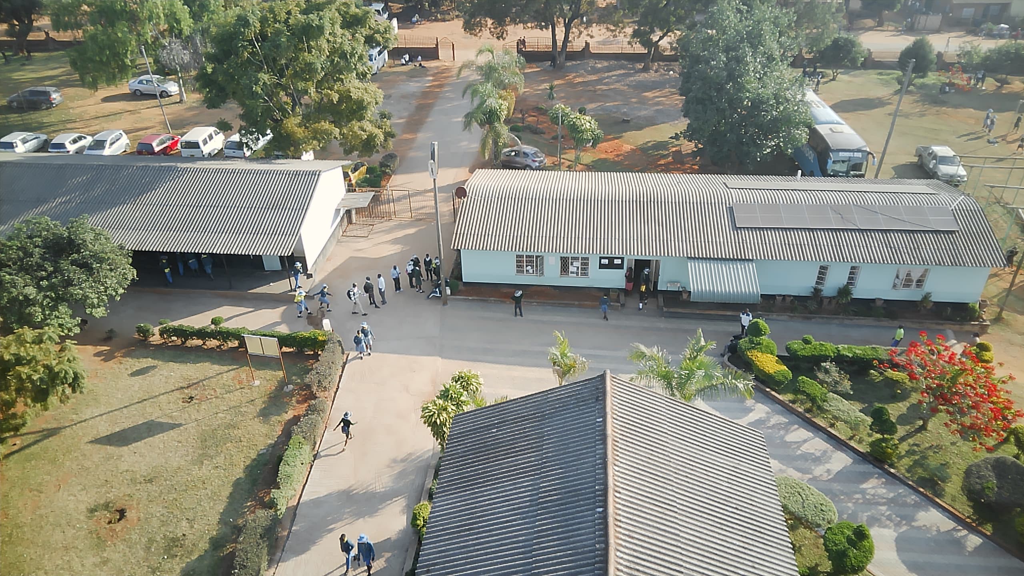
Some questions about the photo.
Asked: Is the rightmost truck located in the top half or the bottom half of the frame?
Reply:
top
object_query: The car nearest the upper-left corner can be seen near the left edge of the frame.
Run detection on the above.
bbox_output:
[0,86,66,111]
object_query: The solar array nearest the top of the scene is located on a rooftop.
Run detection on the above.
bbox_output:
[719,176,930,189]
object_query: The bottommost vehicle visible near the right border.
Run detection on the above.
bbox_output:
[911,143,979,187]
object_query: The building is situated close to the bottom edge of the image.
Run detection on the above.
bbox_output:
[413,369,805,576]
